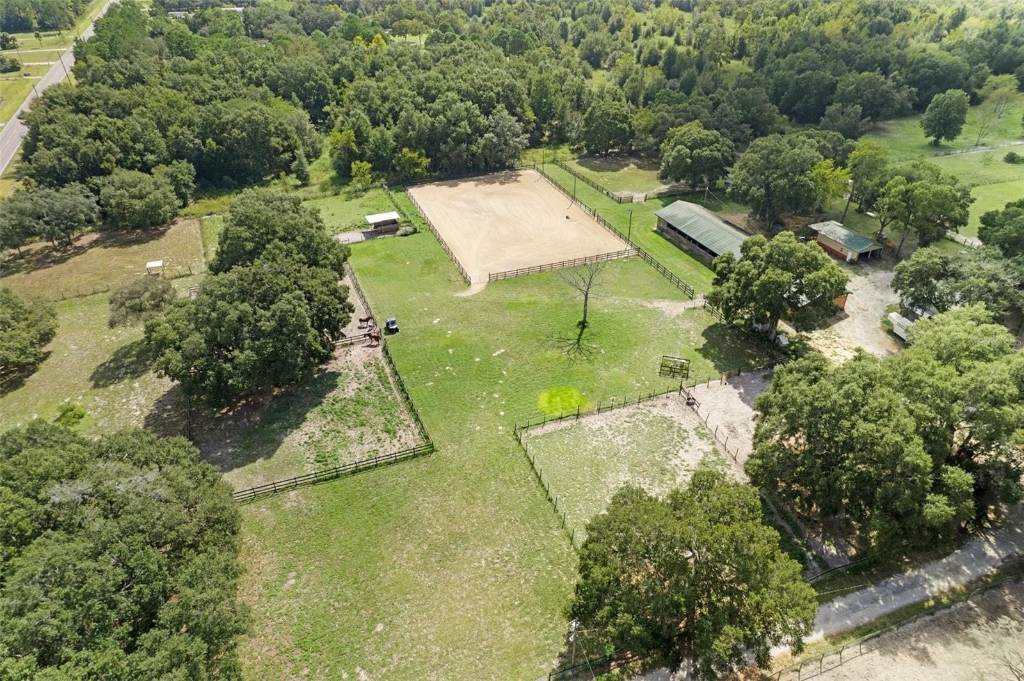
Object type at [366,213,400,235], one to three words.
shed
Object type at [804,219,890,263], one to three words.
building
